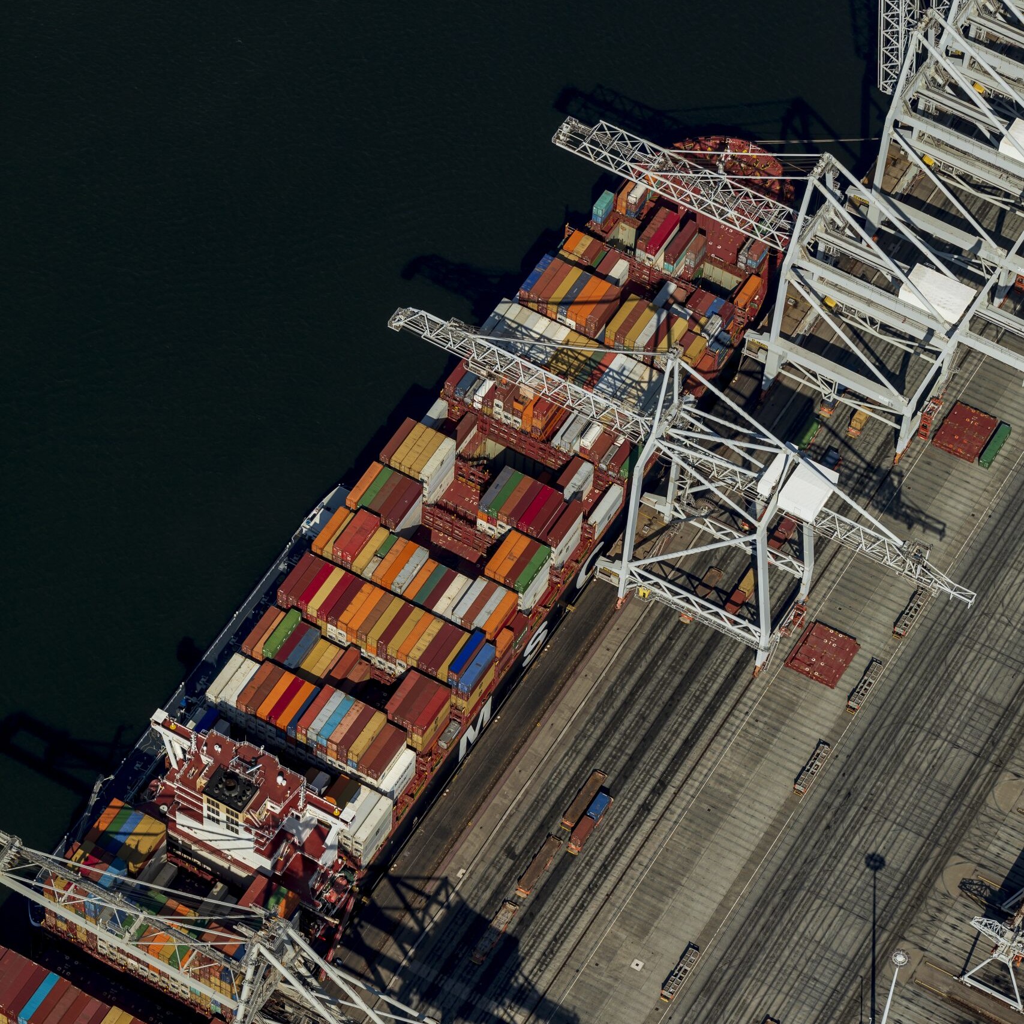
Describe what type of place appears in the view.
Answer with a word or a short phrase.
port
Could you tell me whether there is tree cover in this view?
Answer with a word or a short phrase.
No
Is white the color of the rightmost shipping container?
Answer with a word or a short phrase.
No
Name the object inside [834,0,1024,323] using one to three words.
container crane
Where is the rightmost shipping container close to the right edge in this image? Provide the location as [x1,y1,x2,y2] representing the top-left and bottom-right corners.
[978,424,1012,470]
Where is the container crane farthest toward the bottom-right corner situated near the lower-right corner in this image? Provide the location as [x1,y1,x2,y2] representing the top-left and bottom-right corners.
[958,887,1024,1012]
